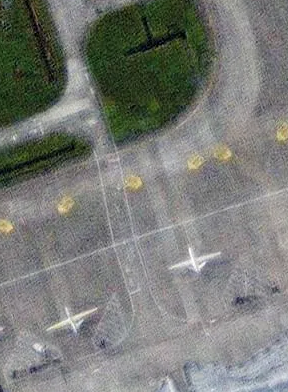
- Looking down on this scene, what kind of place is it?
airport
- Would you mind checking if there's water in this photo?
No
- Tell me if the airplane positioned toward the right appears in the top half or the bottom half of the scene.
bottom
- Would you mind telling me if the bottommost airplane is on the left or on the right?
left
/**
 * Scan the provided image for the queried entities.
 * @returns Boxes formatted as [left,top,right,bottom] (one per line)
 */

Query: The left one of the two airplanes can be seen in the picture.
[47,308,96,335]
